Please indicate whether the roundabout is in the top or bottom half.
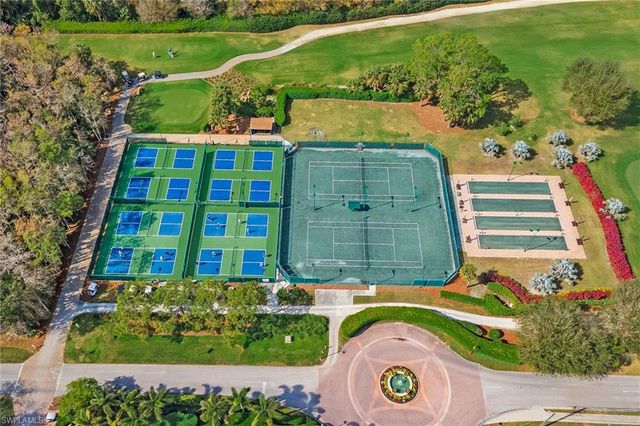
bottom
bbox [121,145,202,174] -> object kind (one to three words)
sports court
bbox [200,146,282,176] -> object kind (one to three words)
sports court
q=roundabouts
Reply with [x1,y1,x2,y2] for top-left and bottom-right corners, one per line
[318,322,491,426]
